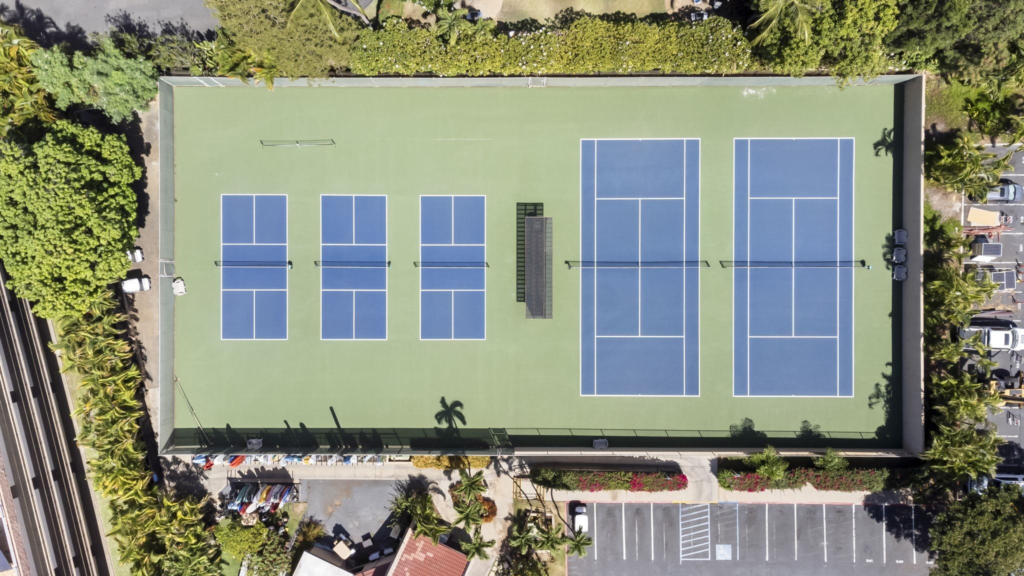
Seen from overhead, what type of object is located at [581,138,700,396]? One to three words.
tennis court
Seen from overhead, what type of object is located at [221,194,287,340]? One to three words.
sports court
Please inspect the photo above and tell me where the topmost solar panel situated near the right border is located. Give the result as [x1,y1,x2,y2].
[982,243,1003,256]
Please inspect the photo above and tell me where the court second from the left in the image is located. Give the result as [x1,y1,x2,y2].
[321,194,387,340]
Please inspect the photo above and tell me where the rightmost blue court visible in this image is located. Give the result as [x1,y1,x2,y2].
[734,138,854,397]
